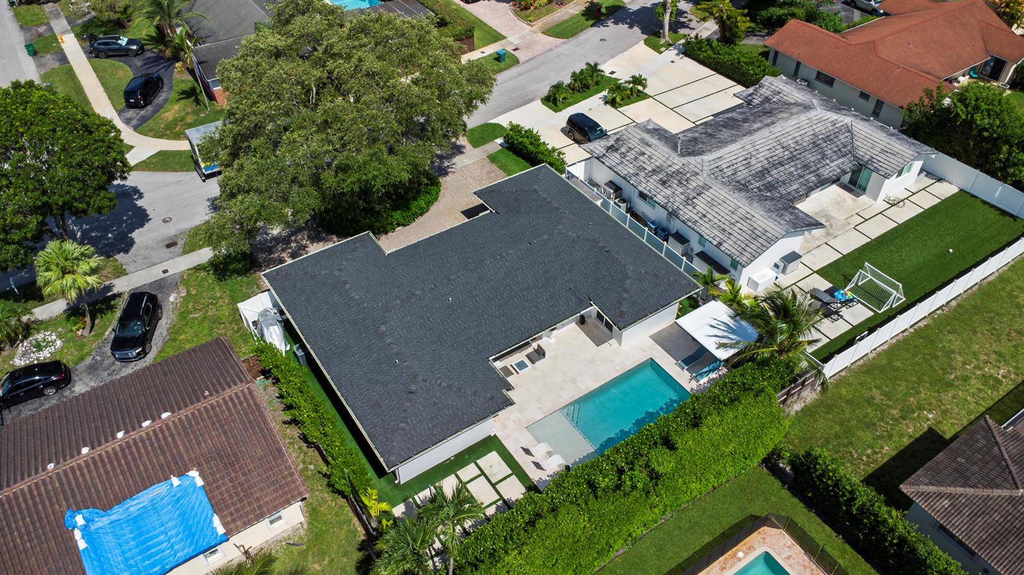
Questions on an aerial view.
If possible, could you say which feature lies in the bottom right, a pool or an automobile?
pool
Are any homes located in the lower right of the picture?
Yes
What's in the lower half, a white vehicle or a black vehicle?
black vehicle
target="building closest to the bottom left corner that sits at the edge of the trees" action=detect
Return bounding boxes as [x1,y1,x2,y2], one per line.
[0,335,313,575]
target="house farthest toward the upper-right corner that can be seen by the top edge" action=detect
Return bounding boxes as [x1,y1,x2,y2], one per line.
[759,0,1024,130]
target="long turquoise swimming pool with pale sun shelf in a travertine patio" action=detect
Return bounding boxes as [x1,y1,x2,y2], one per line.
[517,351,696,483]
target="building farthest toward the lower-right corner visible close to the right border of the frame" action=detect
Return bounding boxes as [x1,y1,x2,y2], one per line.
[897,409,1024,575]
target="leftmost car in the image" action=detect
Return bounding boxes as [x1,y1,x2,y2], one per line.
[0,357,68,410]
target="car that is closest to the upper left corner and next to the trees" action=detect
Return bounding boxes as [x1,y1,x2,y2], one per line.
[77,30,144,57]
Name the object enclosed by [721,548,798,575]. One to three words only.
swimming pool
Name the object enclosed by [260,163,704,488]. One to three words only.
house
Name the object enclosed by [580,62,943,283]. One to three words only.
house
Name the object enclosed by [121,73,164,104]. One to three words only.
car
